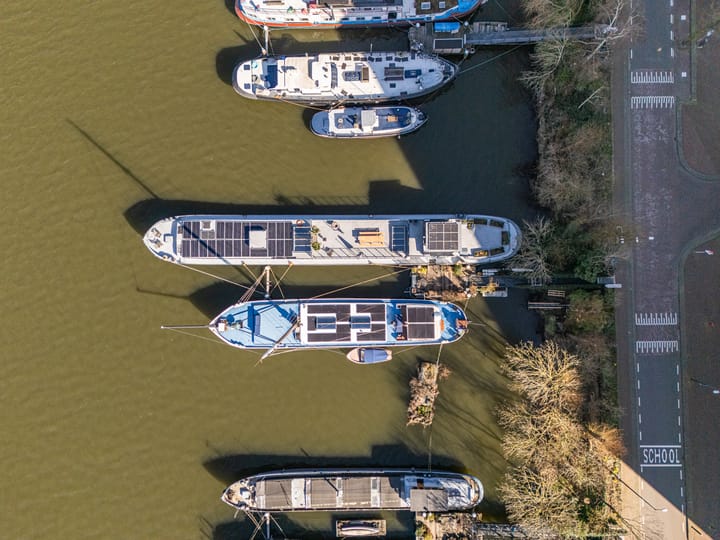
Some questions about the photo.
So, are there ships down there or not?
Yes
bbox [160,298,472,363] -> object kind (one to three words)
ship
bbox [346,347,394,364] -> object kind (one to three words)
boat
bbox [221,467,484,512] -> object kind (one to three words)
boat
